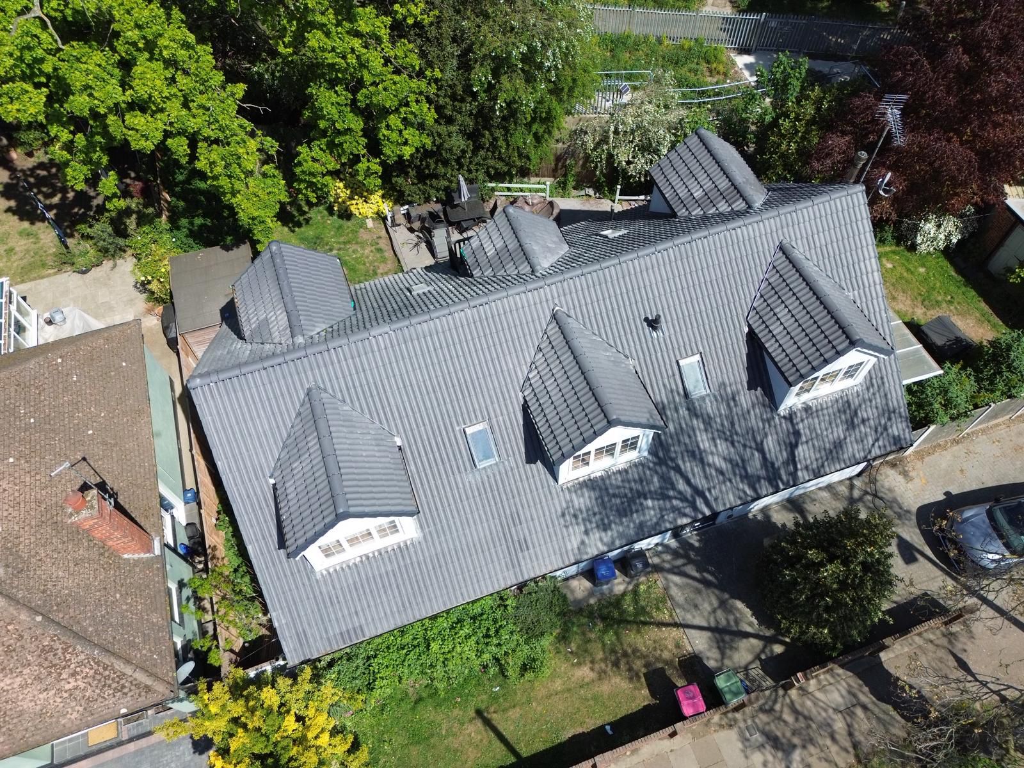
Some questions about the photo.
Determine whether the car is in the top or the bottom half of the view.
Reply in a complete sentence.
The bottom half of the photo is where the car is.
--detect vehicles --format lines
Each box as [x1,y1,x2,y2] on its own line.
[934,487,1024,579]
